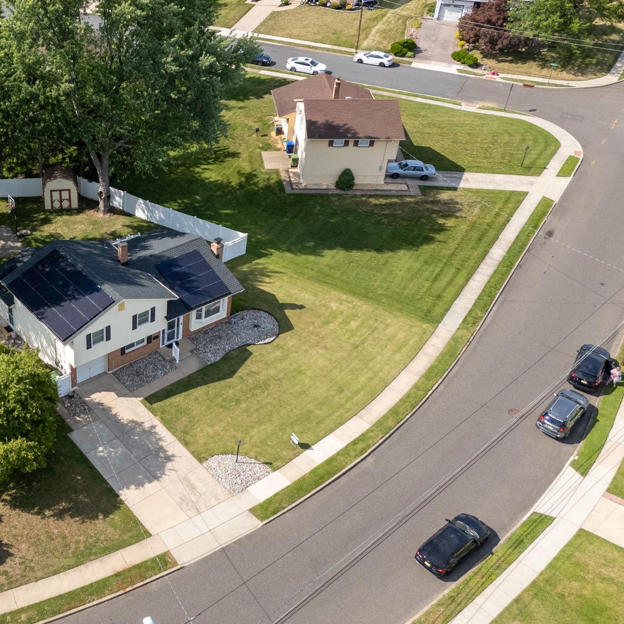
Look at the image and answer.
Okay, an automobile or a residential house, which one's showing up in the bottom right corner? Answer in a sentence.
Looking in the bottom right corner, you will find an automobile.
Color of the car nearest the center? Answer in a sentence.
In this view, the car nearest the center is blue.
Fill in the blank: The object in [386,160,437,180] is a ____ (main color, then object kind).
blue car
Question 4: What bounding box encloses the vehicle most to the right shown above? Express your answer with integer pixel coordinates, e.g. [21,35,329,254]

[573,350,624,394]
